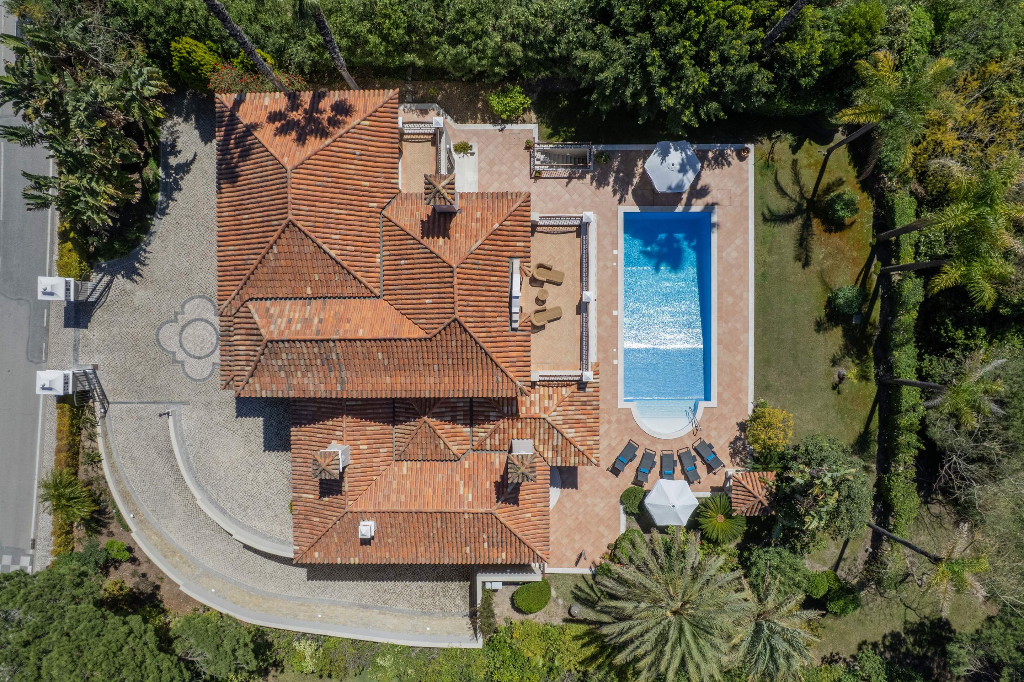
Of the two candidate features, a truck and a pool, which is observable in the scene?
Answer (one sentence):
Of the two, only a pool appears.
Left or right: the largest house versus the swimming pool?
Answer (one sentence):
The largest house can be seen on the left of the swimming pool.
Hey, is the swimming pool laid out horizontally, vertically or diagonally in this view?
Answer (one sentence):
I'd say the swimming pool is aligned vertically in the picture.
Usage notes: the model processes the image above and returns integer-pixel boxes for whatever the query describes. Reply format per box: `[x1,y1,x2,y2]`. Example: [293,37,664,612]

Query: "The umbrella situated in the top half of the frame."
[641,143,698,193]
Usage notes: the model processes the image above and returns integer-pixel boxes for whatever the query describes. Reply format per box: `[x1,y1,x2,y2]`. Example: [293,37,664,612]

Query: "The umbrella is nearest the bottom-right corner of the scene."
[642,477,698,527]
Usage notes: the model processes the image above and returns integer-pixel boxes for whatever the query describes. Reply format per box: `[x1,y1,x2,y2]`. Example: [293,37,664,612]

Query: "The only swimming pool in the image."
[618,206,717,439]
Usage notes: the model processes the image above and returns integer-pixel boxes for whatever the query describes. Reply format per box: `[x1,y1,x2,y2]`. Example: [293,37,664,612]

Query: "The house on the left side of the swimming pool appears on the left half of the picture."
[211,85,603,567]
